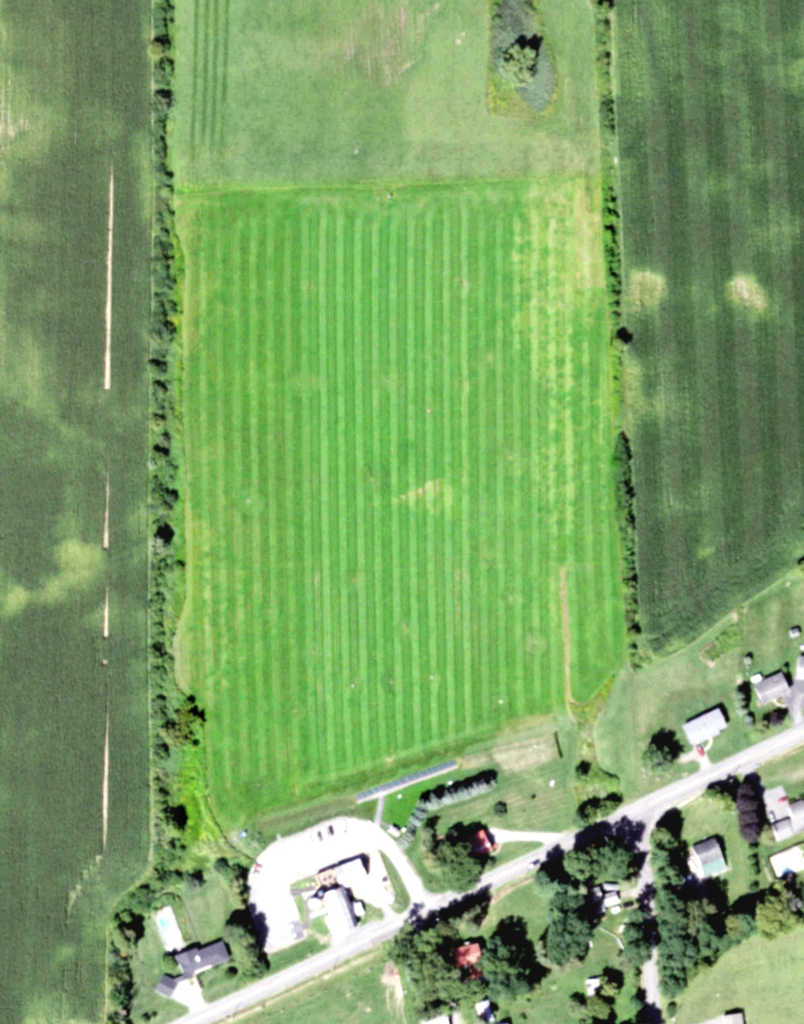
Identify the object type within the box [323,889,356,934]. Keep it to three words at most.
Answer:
barn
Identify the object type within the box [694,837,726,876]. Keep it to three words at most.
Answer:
house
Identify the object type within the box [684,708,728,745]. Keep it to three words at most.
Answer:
house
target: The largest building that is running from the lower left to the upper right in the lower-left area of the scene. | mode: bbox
[156,939,227,998]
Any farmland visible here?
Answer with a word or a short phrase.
Yes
